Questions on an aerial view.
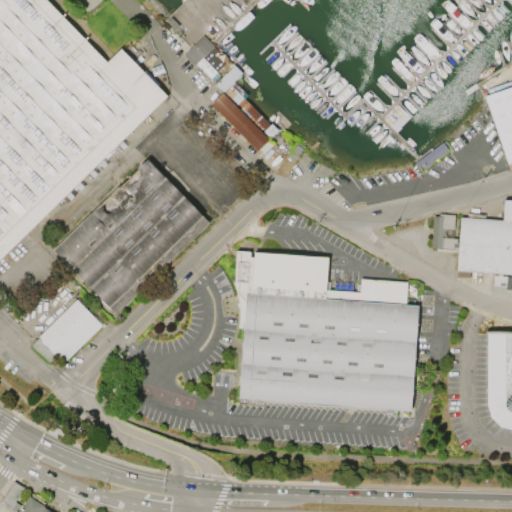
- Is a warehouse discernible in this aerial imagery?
Yes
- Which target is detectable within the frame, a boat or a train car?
boat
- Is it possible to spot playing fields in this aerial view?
No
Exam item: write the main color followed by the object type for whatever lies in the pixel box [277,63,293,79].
white boat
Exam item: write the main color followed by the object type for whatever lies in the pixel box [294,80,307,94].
white boat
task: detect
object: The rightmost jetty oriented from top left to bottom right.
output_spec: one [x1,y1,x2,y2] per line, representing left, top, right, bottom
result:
[344,98,432,158]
